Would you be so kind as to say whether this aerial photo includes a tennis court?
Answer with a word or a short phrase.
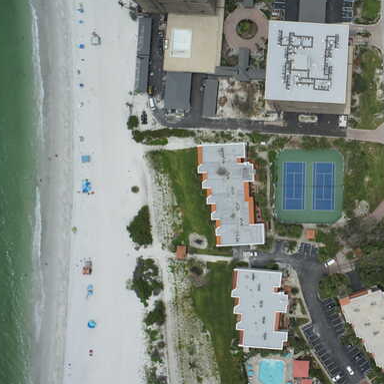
Yes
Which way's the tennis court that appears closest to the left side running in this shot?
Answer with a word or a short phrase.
vertically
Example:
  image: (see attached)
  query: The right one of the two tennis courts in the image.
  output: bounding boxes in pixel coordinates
[309,148,344,223]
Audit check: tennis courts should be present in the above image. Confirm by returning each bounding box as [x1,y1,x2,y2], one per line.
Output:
[309,148,344,223]
[274,149,309,223]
